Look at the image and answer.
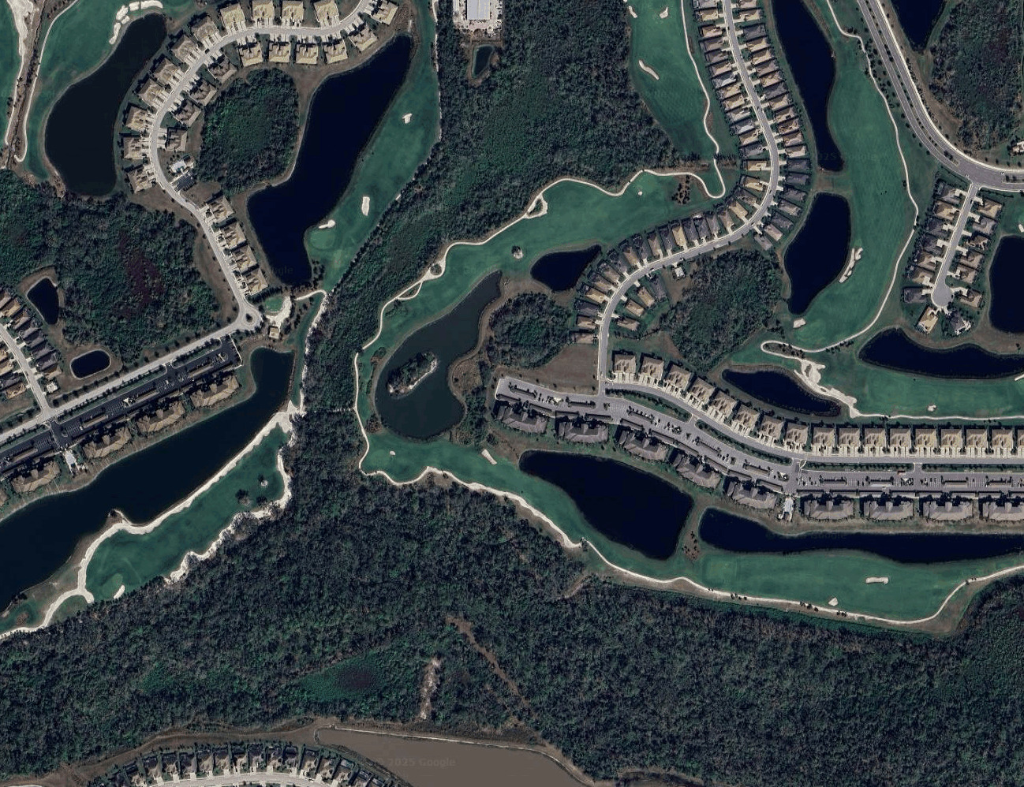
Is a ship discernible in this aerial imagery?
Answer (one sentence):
No, the scene contains no ship.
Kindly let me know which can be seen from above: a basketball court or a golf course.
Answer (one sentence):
Looking from above, you can make out a golf course.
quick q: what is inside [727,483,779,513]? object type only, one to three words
building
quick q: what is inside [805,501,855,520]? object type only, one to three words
building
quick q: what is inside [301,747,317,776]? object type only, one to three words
house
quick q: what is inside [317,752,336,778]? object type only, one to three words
house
